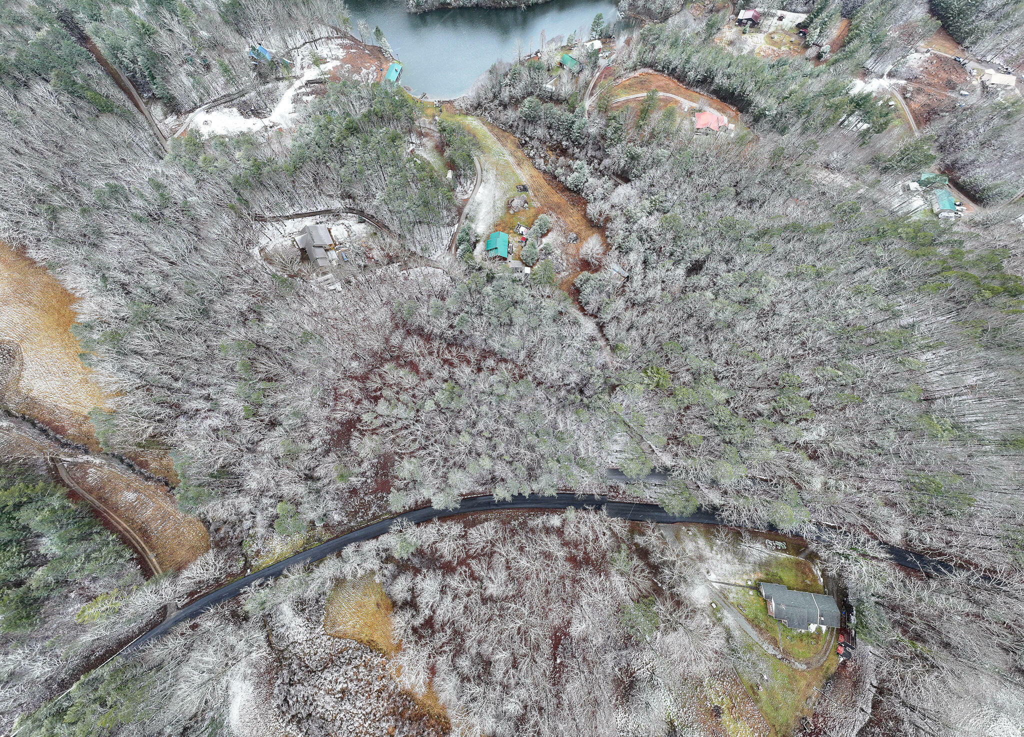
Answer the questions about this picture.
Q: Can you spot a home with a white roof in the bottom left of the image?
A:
No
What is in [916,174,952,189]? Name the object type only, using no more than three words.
house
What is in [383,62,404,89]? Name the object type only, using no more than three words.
building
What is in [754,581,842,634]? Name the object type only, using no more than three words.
house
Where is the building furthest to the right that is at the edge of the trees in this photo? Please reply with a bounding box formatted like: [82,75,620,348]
[977,69,1018,92]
